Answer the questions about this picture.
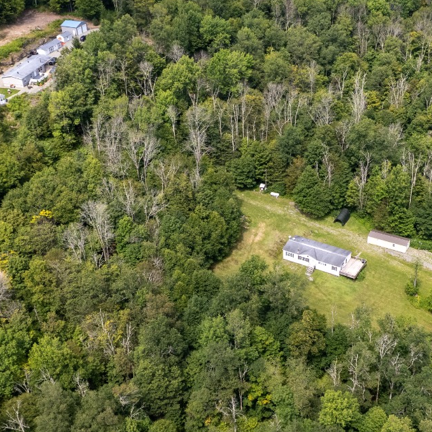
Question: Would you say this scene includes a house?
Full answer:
Yes, you can see a house in this photo.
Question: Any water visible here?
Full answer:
No, there is no water in the image.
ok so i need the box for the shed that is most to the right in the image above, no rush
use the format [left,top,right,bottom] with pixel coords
[367,229,412,252]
